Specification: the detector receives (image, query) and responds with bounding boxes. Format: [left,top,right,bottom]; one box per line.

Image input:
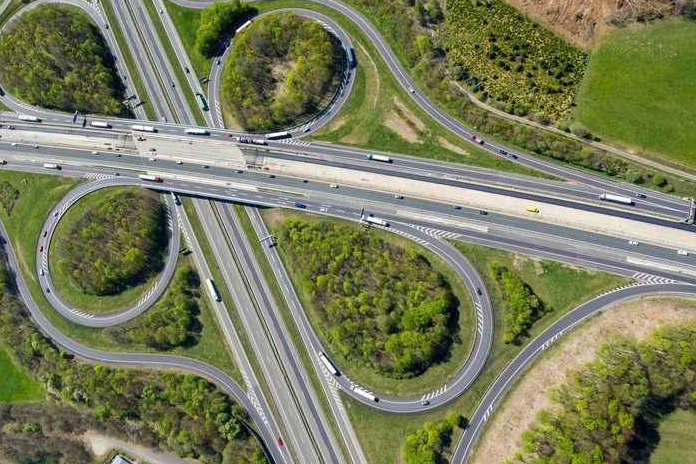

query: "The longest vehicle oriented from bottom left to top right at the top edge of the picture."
[234,19,256,34]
